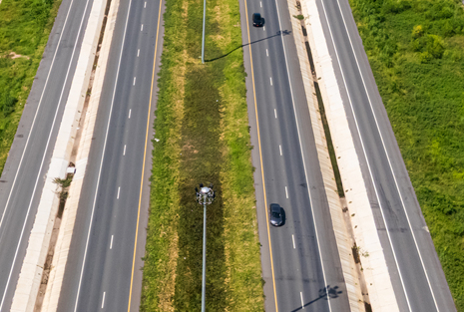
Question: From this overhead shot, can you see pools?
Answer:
No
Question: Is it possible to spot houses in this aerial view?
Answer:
No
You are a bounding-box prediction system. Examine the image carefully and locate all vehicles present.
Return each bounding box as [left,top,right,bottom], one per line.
[254,9,264,23]
[271,201,286,223]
